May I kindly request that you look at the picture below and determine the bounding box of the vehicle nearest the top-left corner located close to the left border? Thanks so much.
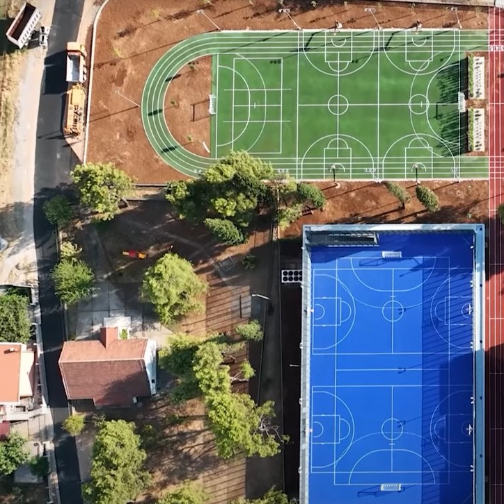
[5,4,46,46]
